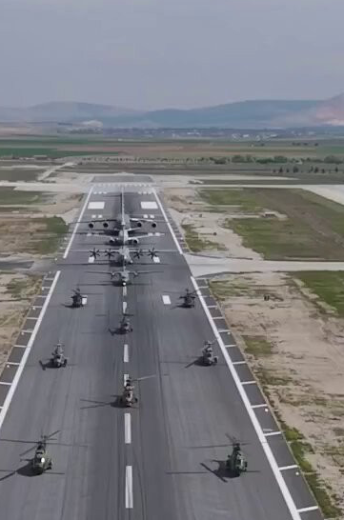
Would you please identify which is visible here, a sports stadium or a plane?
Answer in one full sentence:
The one in the frame is a plane.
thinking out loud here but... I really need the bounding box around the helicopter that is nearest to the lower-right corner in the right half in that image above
[189,428,281,476]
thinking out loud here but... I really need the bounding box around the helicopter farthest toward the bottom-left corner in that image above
[0,427,88,475]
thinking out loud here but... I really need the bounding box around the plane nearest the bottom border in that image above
[84,269,163,289]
